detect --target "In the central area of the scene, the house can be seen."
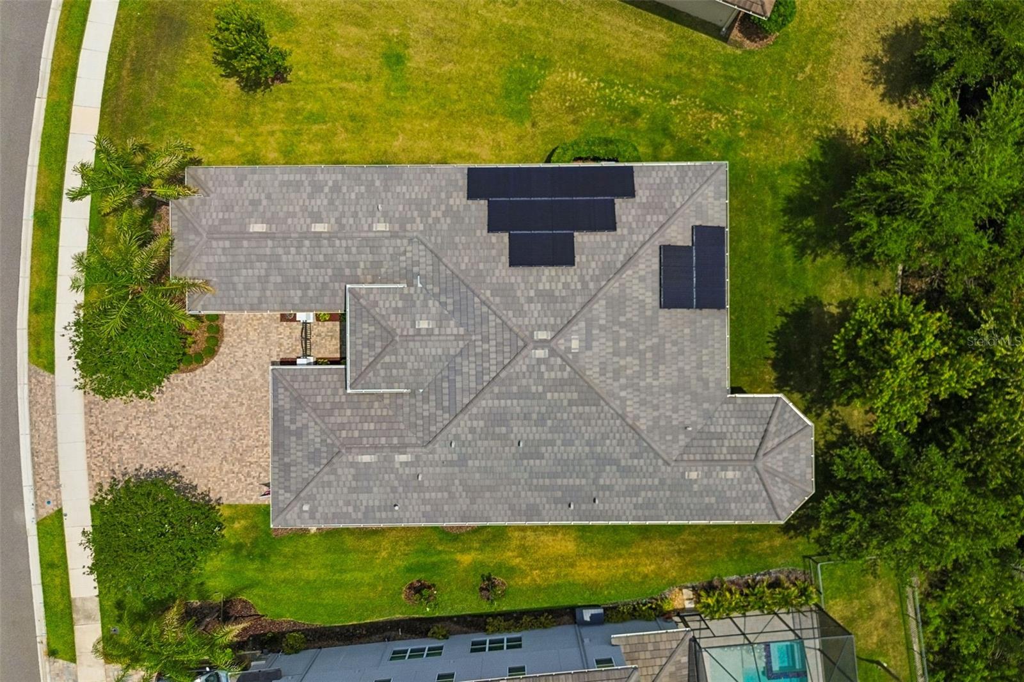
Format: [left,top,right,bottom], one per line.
[166,160,815,530]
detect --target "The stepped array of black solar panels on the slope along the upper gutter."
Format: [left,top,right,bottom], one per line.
[465,165,636,264]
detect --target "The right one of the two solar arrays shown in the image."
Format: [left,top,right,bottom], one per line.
[662,225,727,310]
